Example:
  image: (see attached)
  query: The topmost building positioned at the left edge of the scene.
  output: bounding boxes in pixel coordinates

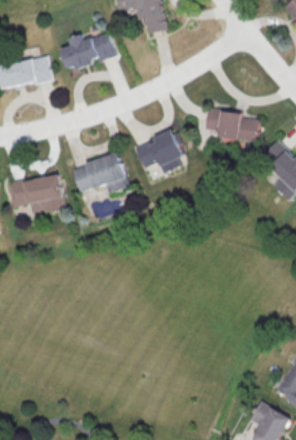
[0,54,55,90]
